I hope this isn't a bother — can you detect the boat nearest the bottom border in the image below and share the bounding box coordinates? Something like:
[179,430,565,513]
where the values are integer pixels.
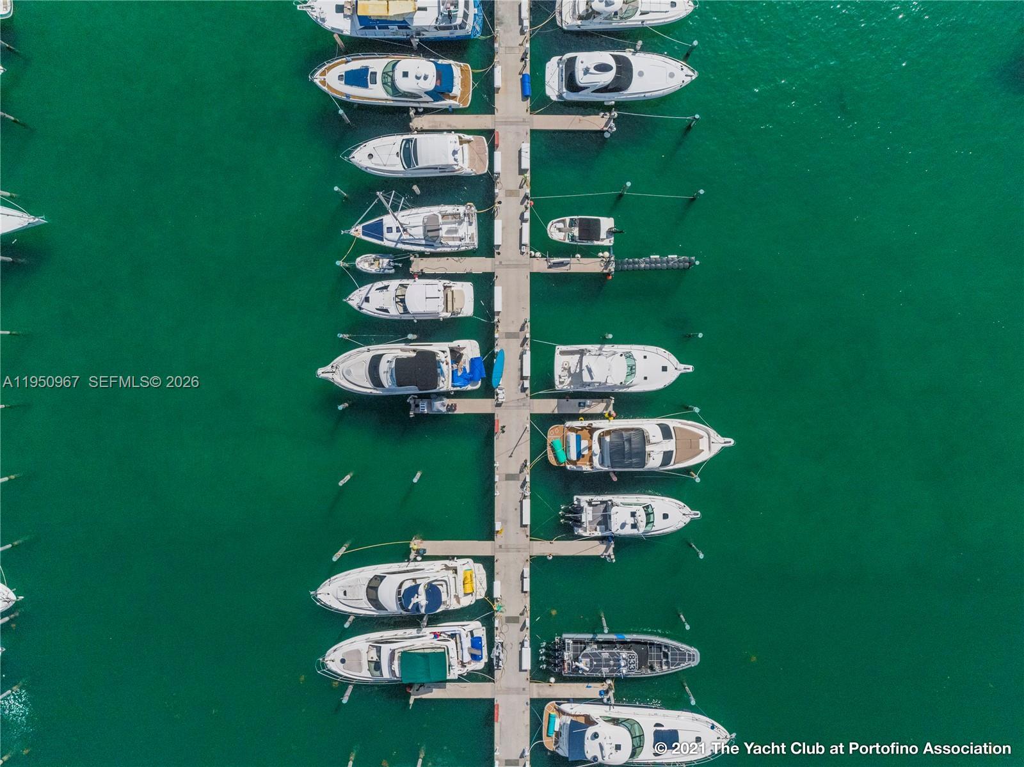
[529,698,736,767]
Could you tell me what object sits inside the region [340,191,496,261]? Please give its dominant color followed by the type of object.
white boat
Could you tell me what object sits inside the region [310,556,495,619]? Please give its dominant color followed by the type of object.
white boat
